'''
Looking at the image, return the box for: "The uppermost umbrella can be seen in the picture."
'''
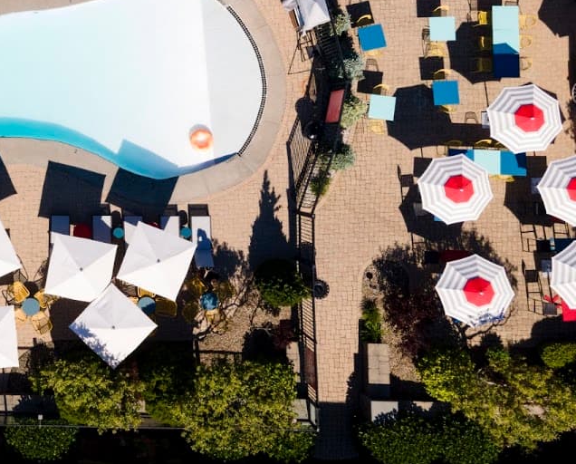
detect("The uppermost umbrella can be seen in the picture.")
[476,82,561,156]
